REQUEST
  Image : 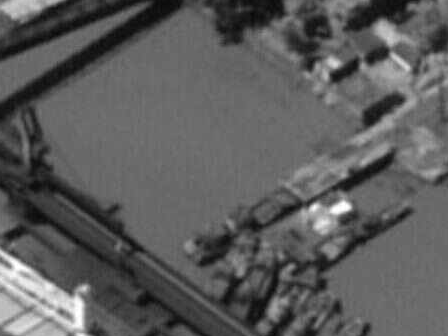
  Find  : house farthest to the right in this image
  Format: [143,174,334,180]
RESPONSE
[385,38,426,69]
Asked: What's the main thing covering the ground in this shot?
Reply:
water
